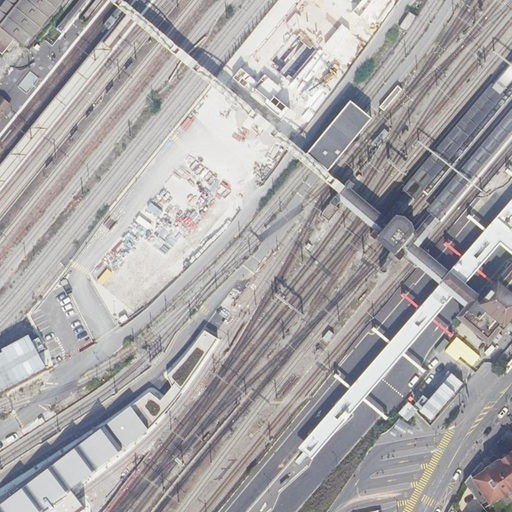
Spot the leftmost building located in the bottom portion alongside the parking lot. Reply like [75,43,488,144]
[0,335,47,393]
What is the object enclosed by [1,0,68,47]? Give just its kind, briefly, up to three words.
building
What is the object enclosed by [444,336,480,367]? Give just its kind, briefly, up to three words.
building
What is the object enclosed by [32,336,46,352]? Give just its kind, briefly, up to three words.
vehicle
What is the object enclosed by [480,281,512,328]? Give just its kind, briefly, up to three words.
house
